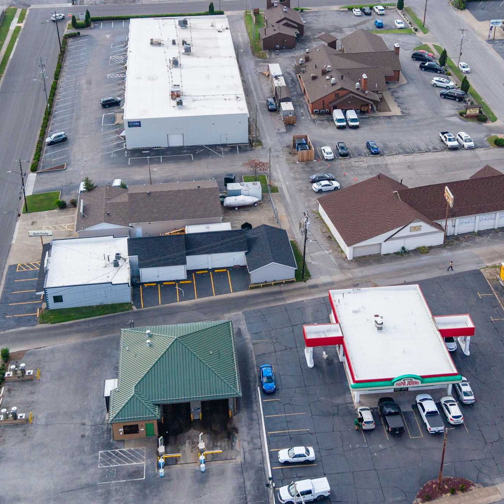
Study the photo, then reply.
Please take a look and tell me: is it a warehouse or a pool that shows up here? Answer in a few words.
warehouse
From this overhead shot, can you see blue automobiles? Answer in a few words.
Yes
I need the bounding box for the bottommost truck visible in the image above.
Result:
[276,478,333,504]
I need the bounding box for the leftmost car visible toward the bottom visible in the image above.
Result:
[258,364,276,392]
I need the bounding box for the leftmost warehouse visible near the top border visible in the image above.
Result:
[118,15,248,150]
